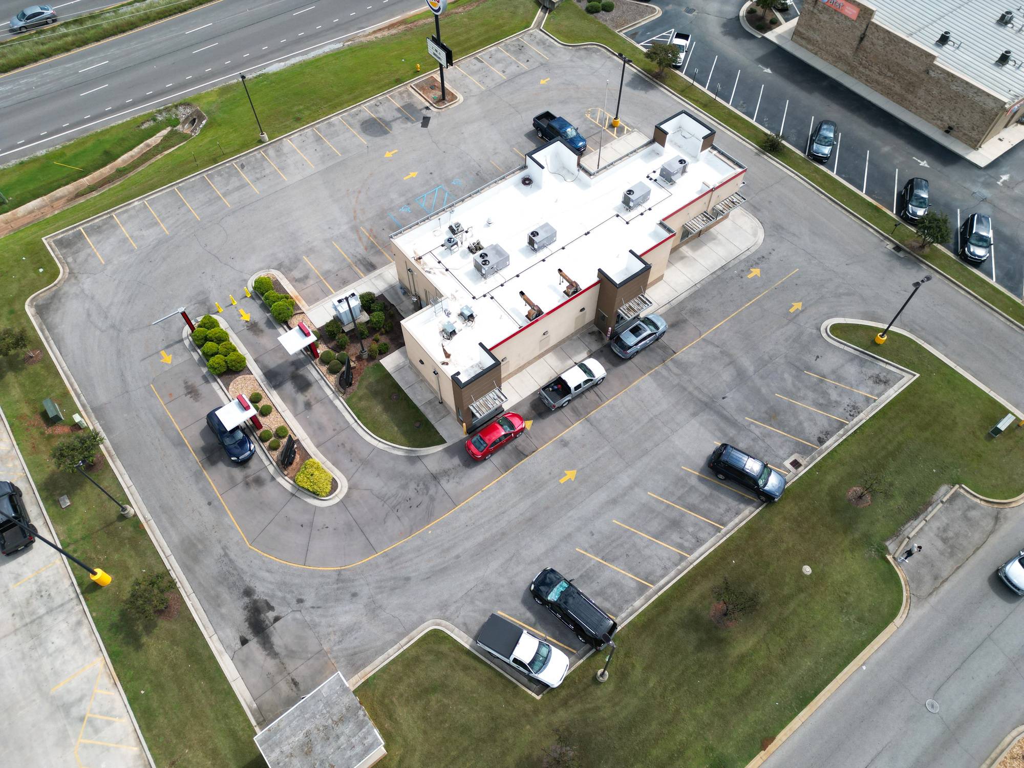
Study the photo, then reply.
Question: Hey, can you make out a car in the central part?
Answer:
Yes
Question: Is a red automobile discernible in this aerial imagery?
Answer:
Yes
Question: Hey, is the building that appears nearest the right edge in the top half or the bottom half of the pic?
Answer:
top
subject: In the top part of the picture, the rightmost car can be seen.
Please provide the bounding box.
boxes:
[963,211,999,261]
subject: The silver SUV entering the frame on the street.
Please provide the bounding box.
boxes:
[997,535,1024,592]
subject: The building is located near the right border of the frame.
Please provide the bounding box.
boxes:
[792,0,1024,148]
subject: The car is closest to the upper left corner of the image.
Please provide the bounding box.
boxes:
[8,6,59,31]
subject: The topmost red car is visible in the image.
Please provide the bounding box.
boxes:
[461,410,528,464]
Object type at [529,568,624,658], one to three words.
car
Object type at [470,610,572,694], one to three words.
truck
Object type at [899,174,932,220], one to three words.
car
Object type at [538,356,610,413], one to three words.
truck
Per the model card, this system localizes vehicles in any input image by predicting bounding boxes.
[899,174,932,220]
[810,117,839,159]
[461,410,528,464]
[529,568,624,658]
[530,110,584,151]
[204,399,251,460]
[538,356,610,413]
[997,535,1024,592]
[667,31,691,66]
[710,445,787,505]
[963,211,999,261]
[609,313,670,361]
[8,6,59,31]
[470,610,572,694]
